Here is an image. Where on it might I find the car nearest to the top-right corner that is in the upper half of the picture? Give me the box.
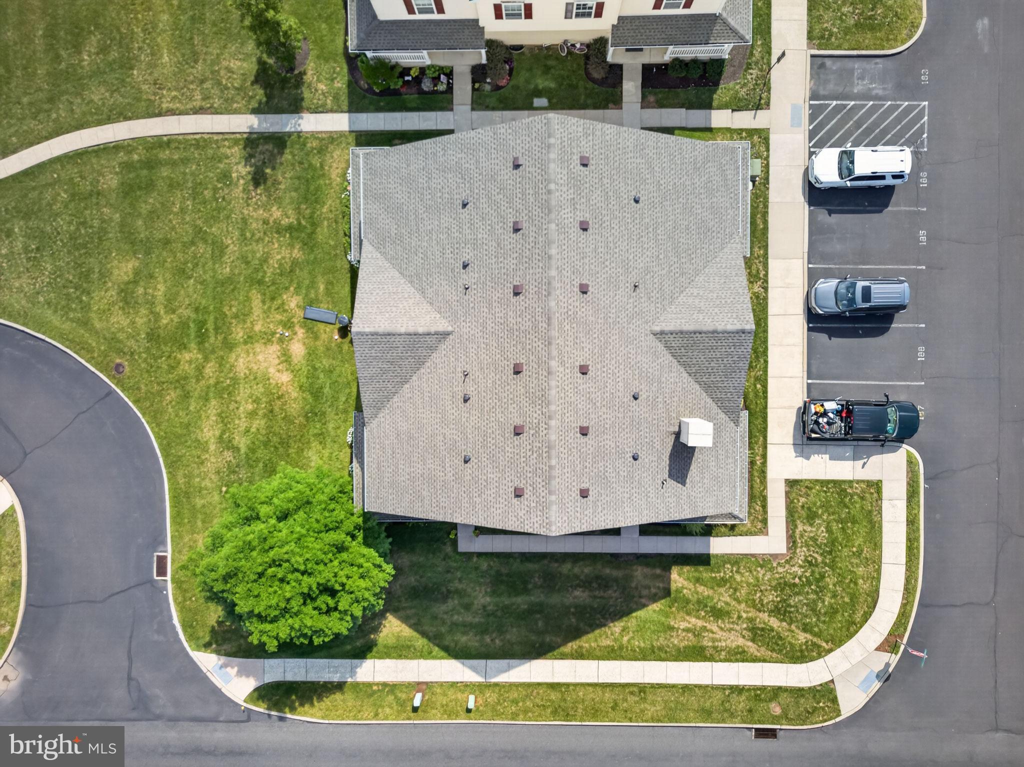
[805,141,917,191]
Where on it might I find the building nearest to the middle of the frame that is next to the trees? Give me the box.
[349,115,756,539]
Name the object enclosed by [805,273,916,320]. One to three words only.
car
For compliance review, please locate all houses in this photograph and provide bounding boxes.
[349,0,752,68]
[349,115,756,539]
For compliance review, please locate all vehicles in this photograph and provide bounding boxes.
[797,394,919,448]
[805,141,917,191]
[805,273,916,320]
